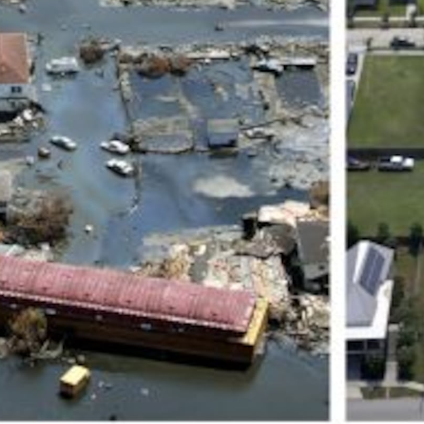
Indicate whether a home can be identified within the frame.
Yes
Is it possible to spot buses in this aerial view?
Yes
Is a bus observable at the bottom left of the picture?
Yes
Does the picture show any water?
Yes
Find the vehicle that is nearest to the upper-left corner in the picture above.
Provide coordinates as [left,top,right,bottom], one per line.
[48,58,77,70]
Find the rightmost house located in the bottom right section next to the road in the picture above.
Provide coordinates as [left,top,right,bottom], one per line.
[347,241,395,394]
